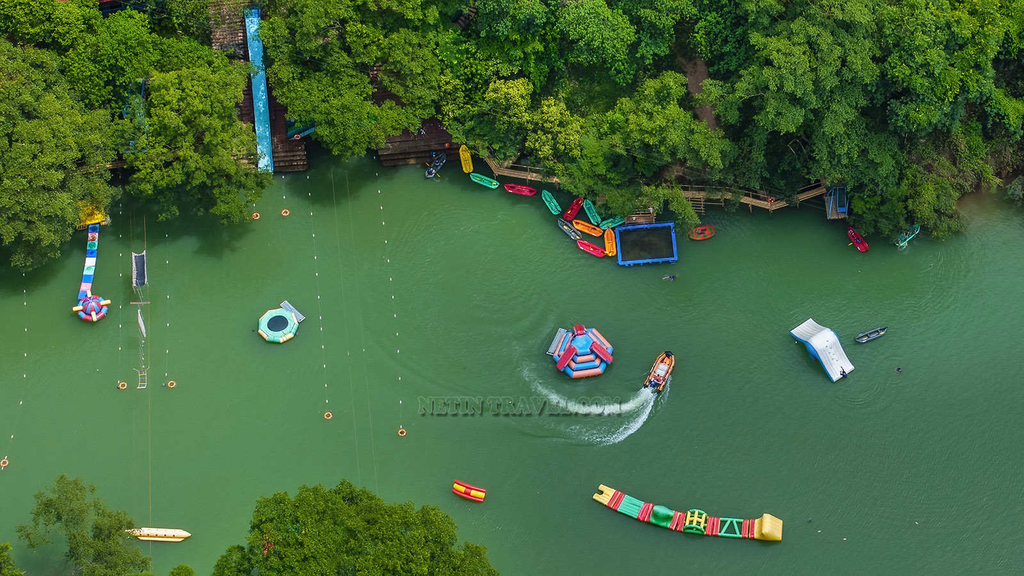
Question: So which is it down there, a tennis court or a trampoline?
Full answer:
It is a trampoline that can be seen here.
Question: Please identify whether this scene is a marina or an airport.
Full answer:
This looks like a marina.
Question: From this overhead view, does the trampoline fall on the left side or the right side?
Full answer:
It is on the left.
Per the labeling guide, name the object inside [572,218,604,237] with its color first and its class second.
orange boat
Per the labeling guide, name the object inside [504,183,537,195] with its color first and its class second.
red boat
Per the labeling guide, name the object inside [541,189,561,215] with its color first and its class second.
green boat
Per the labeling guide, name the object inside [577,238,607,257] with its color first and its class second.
red boat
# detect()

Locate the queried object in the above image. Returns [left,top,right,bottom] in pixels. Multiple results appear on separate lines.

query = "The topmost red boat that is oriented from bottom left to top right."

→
[565,196,584,220]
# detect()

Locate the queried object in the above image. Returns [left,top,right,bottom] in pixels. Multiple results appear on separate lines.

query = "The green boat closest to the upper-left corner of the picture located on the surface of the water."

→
[470,172,499,189]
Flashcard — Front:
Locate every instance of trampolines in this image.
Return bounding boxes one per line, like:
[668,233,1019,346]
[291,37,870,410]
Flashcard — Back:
[258,300,304,344]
